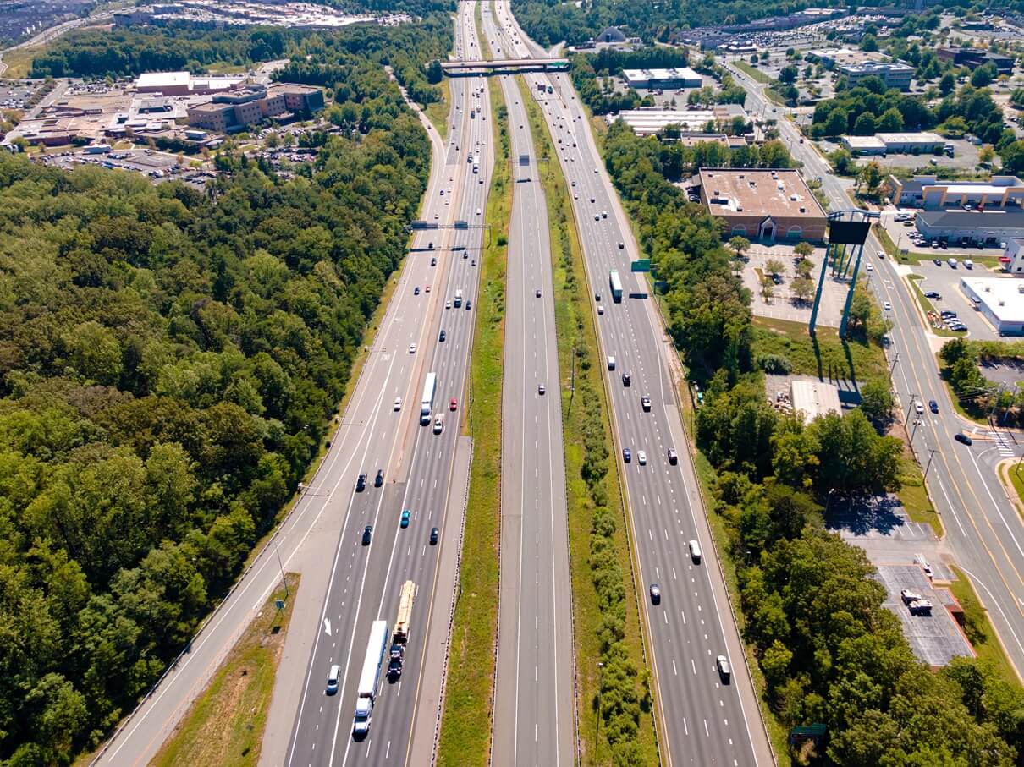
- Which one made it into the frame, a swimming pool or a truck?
truck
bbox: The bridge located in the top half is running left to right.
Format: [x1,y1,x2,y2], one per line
[449,58,573,73]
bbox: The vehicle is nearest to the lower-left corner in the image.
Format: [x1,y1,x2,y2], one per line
[324,666,340,693]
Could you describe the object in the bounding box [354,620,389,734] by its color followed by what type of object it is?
white truck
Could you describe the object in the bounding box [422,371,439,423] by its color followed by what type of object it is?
white vehicle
